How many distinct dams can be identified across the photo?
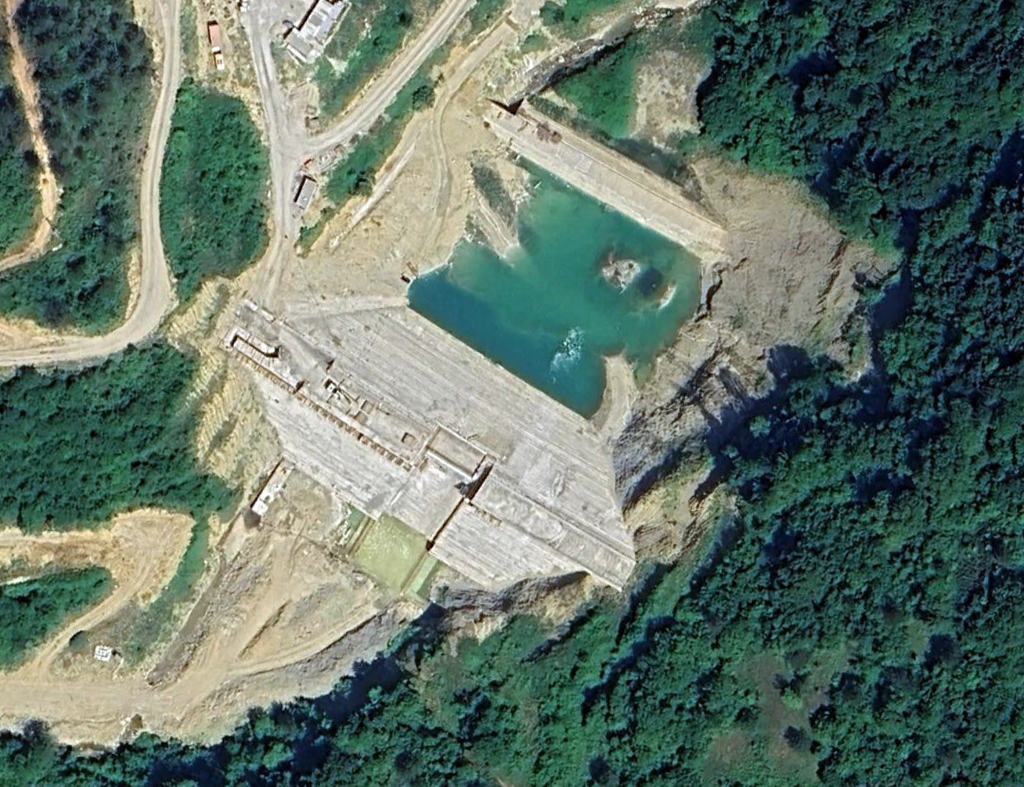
2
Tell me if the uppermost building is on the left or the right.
left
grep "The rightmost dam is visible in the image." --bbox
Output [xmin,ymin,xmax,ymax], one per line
[483,100,721,248]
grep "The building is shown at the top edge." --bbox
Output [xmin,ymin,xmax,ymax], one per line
[286,0,349,60]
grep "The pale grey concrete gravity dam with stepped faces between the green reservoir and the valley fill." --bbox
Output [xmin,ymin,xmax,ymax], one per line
[223,298,638,593]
